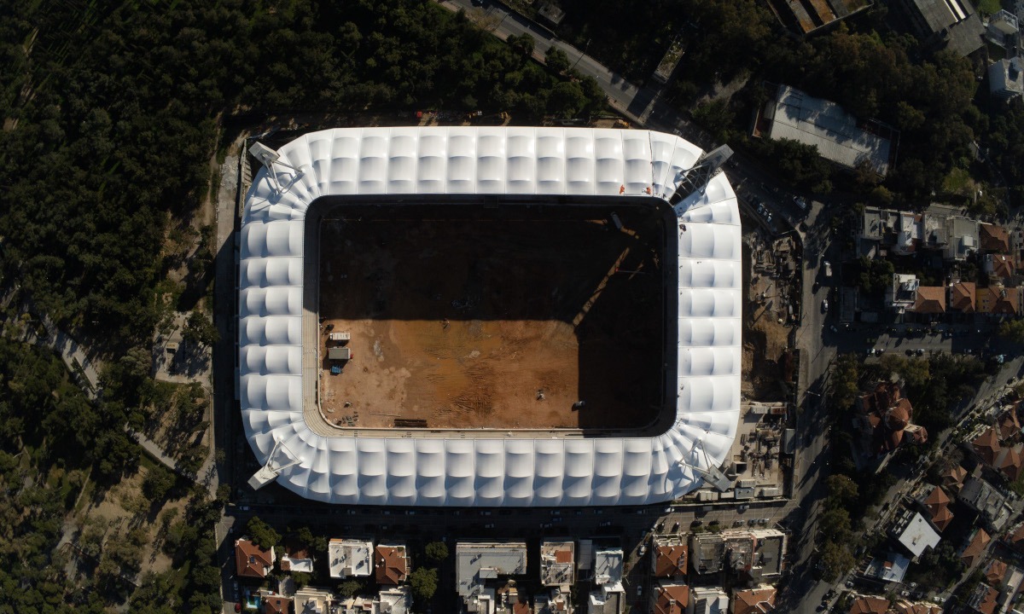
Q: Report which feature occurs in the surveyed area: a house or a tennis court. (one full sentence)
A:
I can see a house in this picture.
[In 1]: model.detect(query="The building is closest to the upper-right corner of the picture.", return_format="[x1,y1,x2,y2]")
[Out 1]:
[983,9,1021,41]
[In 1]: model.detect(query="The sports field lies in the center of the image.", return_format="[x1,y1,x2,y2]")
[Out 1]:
[318,203,664,430]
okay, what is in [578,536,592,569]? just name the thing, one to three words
shed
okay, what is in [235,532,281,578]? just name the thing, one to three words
house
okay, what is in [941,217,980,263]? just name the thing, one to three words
building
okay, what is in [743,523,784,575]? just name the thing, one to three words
building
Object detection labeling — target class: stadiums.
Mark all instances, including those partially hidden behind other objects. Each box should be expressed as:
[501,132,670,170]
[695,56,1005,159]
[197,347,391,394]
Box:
[240,127,741,505]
